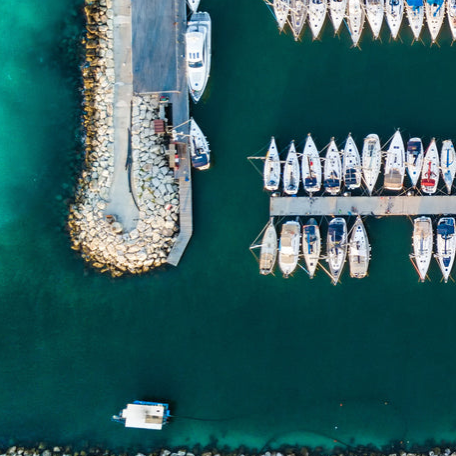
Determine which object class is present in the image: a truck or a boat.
boat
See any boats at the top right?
Yes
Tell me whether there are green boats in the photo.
No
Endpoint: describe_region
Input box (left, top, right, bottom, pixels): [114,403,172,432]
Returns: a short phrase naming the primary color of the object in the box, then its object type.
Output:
white vessel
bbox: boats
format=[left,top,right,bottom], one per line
[249,131,283,197]
[167,117,208,171]
[407,213,436,284]
[353,130,383,195]
[422,0,444,49]
[404,0,425,45]
[289,214,323,283]
[360,0,385,39]
[403,137,424,194]
[439,136,456,194]
[433,213,456,289]
[184,9,211,102]
[380,0,404,38]
[420,133,441,195]
[262,0,290,32]
[314,214,349,287]
[288,128,327,197]
[276,0,308,46]
[320,0,347,38]
[315,136,343,195]
[277,214,301,283]
[384,122,406,191]
[341,213,371,281]
[296,0,327,45]
[272,139,302,197]
[443,0,456,43]
[335,0,365,46]
[333,131,364,193]
[246,213,278,276]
